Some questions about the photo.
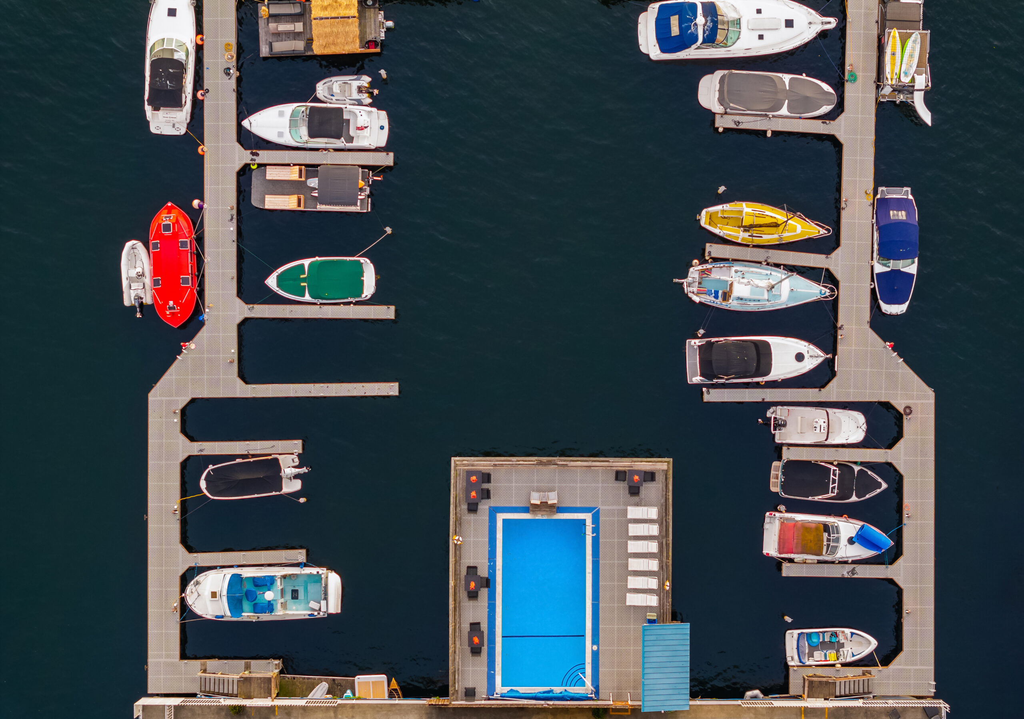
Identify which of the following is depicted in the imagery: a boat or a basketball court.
boat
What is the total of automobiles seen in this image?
0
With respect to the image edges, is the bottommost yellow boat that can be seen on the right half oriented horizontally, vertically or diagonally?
horizontally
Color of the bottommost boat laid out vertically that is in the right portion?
blue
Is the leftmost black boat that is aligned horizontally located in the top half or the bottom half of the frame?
bottom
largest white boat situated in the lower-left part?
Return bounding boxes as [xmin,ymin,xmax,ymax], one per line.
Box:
[184,565,328,620]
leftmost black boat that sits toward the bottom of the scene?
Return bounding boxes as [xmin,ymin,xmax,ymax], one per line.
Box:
[200,454,311,499]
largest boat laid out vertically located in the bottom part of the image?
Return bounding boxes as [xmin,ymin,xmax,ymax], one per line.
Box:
[325,571,342,613]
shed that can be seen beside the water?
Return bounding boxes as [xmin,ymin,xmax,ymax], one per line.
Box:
[640,623,690,712]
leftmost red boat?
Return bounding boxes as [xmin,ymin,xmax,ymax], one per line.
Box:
[149,201,199,328]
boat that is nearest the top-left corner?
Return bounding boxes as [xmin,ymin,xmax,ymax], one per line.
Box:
[144,0,200,135]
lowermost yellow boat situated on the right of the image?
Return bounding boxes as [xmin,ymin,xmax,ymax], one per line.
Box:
[693,197,832,245]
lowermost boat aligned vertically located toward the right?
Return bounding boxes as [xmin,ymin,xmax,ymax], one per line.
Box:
[871,187,919,315]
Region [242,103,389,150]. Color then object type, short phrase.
white boat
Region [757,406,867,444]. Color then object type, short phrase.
white boat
